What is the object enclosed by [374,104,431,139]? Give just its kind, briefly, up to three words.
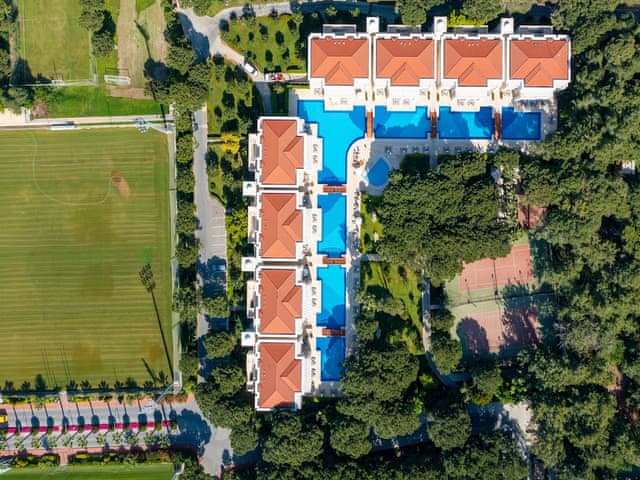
swimming pool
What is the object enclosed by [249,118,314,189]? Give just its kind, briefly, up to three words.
house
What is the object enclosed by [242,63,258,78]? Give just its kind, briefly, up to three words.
car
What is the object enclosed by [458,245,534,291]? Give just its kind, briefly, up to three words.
tennis court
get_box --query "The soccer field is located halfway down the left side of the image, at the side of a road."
[0,128,174,388]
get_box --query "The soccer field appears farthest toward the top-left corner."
[0,0,92,86]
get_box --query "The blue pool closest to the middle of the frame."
[316,192,348,258]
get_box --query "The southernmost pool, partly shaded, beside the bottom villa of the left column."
[315,336,346,382]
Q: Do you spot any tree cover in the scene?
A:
Yes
